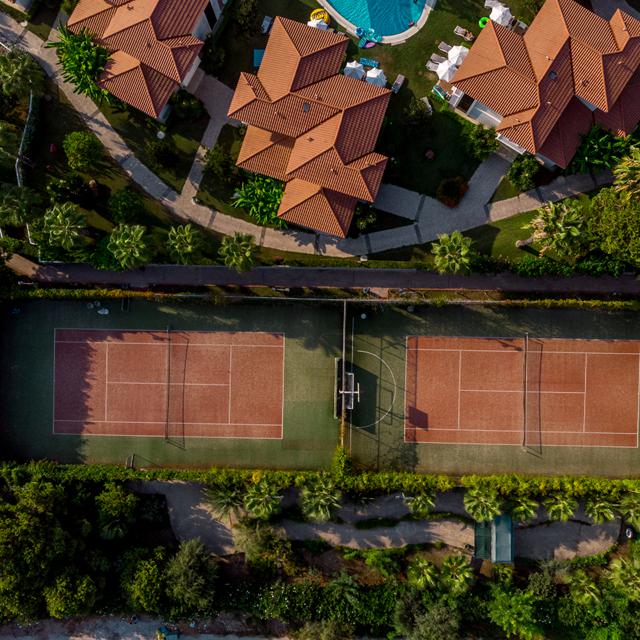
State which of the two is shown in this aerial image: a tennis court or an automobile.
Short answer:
tennis court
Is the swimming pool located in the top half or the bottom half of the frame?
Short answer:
top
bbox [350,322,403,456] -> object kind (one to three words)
basketball court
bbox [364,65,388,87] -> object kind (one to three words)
umbrella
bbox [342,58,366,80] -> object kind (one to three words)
umbrella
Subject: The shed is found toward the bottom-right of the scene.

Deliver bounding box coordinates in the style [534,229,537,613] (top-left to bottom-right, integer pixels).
[471,509,518,569]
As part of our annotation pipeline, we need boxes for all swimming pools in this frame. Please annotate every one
[322,0,437,44]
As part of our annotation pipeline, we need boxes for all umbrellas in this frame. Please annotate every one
[342,58,366,80]
[489,3,513,27]
[433,58,459,84]
[445,43,468,68]
[364,65,388,87]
